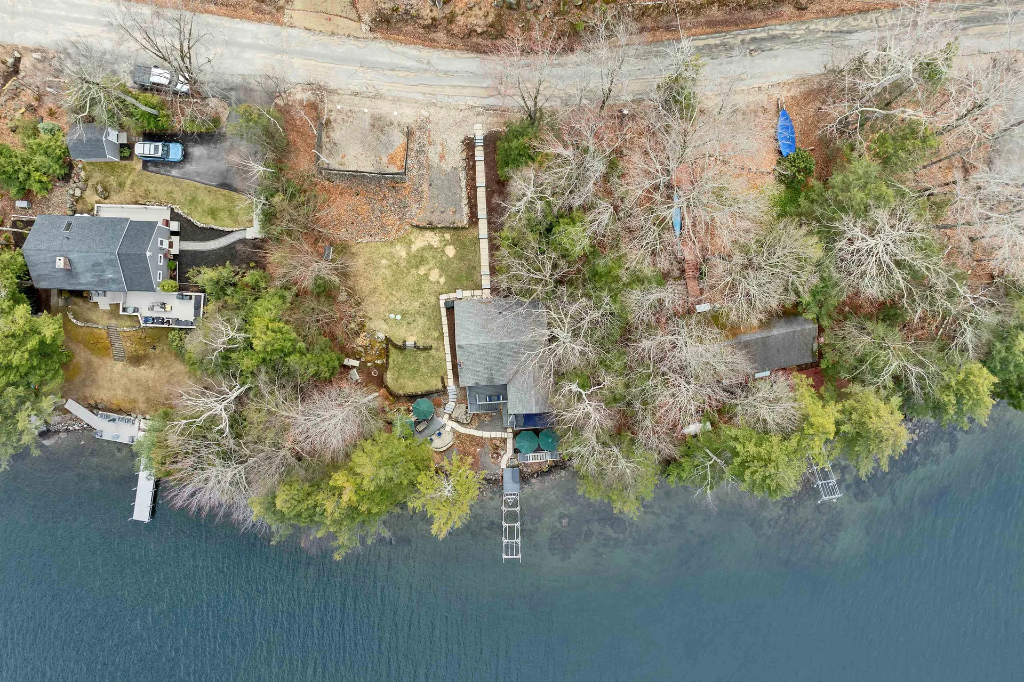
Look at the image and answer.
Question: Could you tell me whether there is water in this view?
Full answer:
Yes, the picture does contain water.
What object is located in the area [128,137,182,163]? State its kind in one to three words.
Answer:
car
